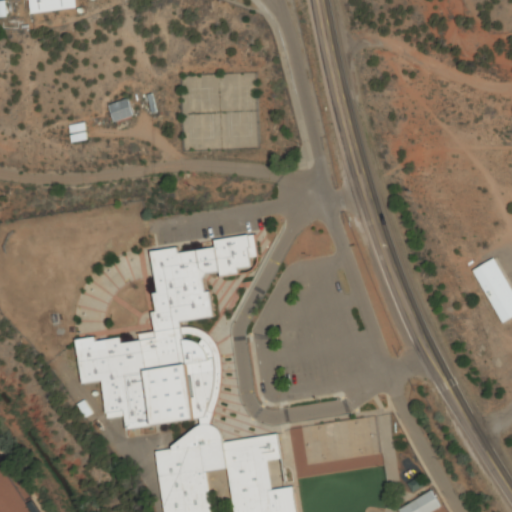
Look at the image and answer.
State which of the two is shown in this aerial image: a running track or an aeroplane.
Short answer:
running track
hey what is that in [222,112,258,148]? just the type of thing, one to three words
sports court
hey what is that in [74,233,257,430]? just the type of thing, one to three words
building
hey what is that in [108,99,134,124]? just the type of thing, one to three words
house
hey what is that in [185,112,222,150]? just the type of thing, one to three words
sports court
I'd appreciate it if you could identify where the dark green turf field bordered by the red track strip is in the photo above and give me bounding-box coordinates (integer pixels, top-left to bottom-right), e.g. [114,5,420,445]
[299,466,388,512]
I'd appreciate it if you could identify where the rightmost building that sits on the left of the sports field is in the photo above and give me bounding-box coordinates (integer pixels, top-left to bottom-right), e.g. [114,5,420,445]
[224,434,297,512]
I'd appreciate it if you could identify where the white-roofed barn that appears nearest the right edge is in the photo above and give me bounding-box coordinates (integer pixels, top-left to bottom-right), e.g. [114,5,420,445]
[474,258,512,322]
